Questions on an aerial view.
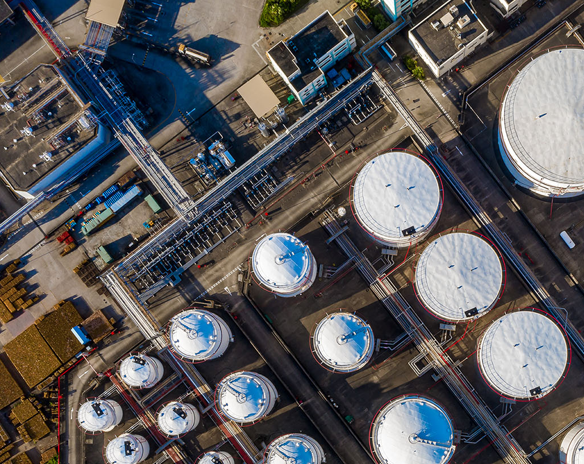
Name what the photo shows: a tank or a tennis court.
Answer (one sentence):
This aerial view contains a tank.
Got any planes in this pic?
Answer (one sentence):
No, the picture doesn't show any plane.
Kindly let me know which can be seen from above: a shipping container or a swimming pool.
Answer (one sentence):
I can see a shipping container in this picture.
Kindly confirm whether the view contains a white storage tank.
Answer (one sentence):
Yes, you can see a white storage tank in this photo.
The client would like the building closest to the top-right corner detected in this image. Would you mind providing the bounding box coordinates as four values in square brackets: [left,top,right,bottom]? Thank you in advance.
[486,0,524,21]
